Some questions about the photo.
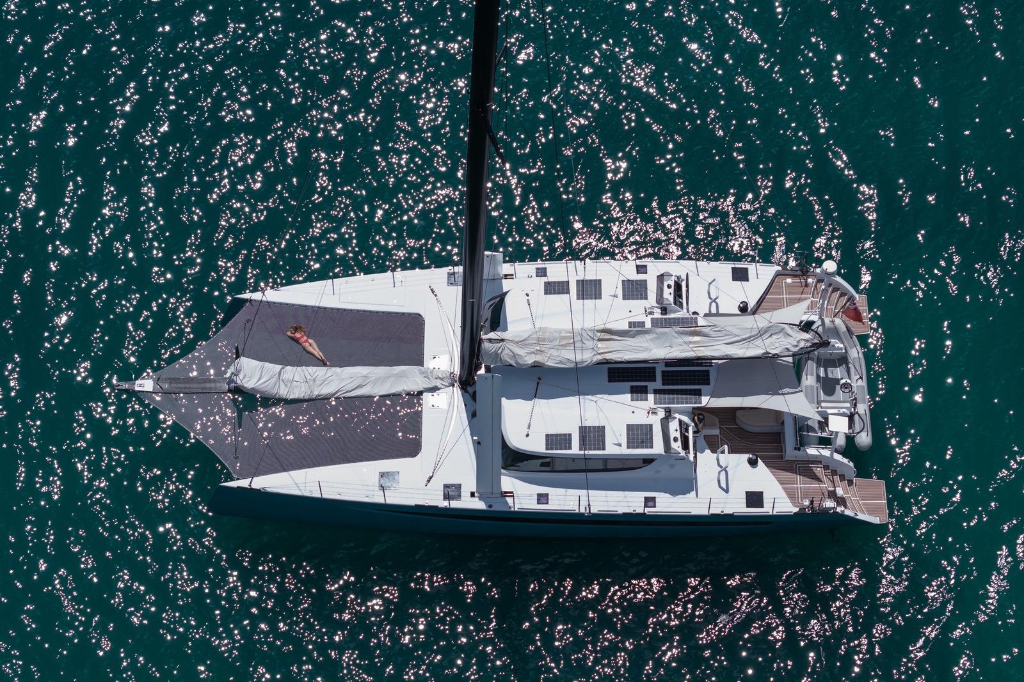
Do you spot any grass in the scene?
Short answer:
No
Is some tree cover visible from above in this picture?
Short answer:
No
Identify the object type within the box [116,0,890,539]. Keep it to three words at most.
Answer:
boat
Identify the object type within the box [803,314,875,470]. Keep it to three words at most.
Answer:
boat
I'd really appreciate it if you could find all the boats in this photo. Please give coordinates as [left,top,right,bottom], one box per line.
[803,314,875,470]
[116,0,890,539]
